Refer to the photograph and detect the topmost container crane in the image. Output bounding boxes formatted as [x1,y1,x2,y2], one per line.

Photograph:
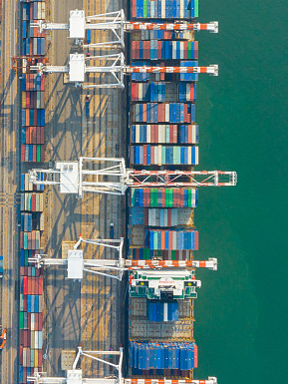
[32,5,219,52]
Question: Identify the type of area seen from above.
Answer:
port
